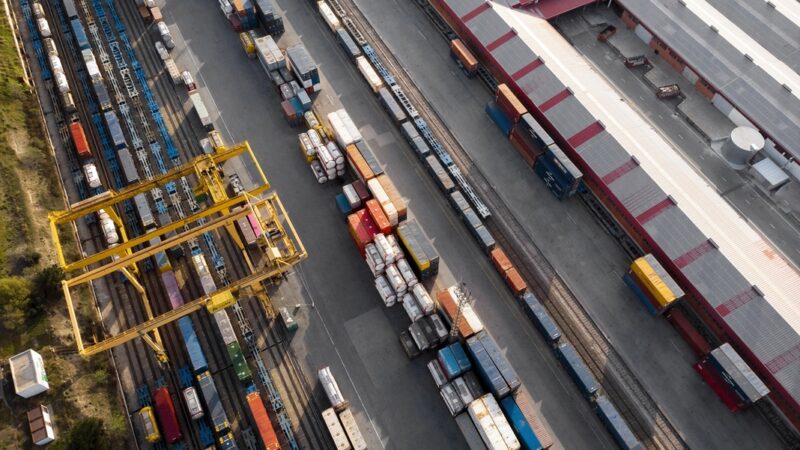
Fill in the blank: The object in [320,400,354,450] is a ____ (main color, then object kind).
white shipping container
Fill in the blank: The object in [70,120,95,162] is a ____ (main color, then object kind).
red shipping container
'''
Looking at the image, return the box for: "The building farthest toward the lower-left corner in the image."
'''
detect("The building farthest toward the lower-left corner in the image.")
[25,404,52,439]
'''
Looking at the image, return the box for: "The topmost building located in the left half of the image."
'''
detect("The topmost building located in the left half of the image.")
[7,348,46,397]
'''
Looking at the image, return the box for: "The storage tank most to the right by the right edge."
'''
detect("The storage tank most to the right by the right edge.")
[721,127,764,162]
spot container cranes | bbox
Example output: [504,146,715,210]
[47,140,271,280]
[66,195,307,355]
